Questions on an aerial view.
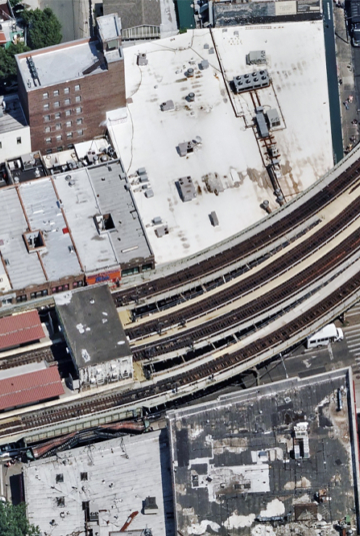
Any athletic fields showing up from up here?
No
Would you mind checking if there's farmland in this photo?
No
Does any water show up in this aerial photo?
No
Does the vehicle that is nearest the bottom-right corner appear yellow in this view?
No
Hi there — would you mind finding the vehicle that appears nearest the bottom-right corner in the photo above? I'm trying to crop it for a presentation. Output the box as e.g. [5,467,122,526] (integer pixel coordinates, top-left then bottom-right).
[306,327,347,353]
